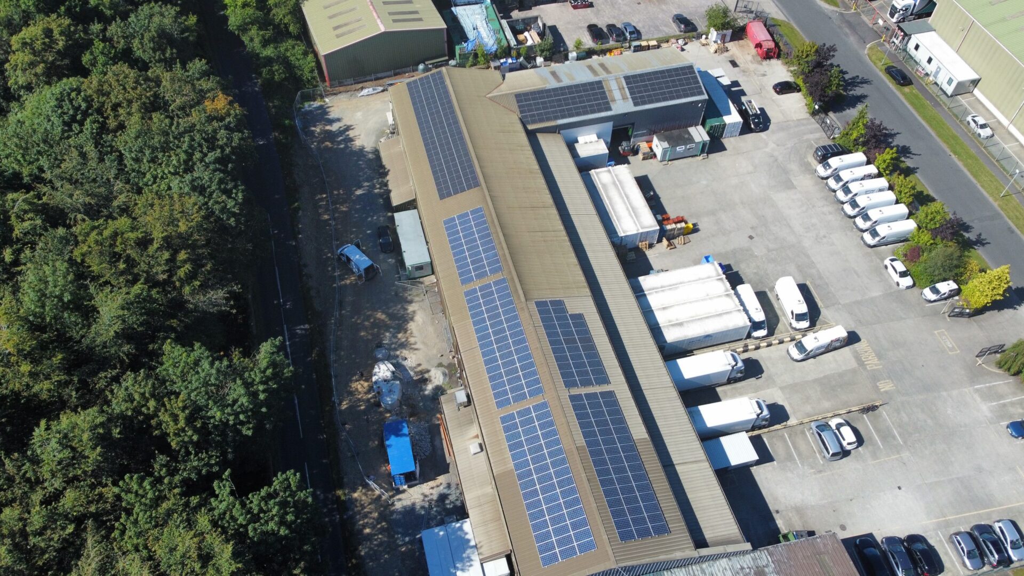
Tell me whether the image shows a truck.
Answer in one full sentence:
Yes, a truck is visible in the scene.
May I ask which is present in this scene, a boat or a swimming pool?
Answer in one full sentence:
I can see a boat in this picture.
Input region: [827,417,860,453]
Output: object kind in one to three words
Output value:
car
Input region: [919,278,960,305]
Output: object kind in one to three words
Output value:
vehicle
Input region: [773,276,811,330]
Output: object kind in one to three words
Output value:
van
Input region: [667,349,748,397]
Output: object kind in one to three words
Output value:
truck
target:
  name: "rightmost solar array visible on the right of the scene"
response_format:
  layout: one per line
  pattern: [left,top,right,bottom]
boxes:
[629,65,706,108]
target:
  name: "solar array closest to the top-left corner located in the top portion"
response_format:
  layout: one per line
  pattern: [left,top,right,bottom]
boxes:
[405,66,481,196]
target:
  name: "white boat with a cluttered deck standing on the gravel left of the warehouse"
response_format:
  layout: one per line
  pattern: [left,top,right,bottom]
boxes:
[372,357,407,410]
